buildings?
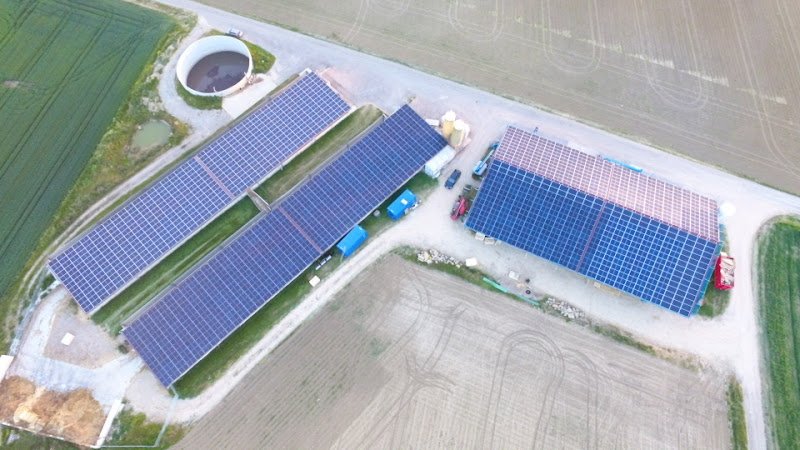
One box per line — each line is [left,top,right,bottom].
[120,99,451,390]
[45,66,355,318]
[464,125,723,320]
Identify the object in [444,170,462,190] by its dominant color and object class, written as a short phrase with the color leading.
blue car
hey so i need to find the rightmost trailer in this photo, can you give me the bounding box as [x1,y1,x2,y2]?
[710,256,735,291]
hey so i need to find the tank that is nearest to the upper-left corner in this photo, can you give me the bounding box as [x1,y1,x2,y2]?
[176,36,266,102]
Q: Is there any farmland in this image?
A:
Yes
